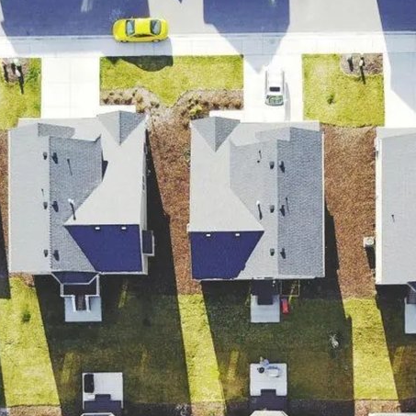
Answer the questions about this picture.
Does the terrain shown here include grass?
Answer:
Yes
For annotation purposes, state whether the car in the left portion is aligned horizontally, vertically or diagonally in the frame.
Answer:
horizontally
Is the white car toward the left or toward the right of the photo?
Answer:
right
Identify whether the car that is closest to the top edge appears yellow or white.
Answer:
yellow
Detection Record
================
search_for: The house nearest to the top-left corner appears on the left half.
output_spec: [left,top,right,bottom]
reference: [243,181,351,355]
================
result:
[9,109,154,286]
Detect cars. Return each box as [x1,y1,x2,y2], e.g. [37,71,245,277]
[262,66,288,124]
[114,17,169,45]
